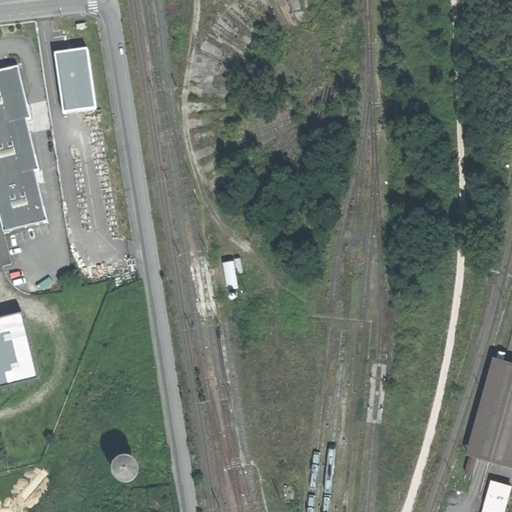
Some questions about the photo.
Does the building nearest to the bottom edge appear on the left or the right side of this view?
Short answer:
right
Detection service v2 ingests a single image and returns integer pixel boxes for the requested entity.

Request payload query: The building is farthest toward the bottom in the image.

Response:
[481,480,512,512]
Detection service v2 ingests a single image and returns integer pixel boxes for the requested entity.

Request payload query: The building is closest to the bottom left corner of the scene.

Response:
[0,313,37,384]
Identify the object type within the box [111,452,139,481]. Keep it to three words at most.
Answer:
water tower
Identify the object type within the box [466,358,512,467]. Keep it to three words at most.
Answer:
building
